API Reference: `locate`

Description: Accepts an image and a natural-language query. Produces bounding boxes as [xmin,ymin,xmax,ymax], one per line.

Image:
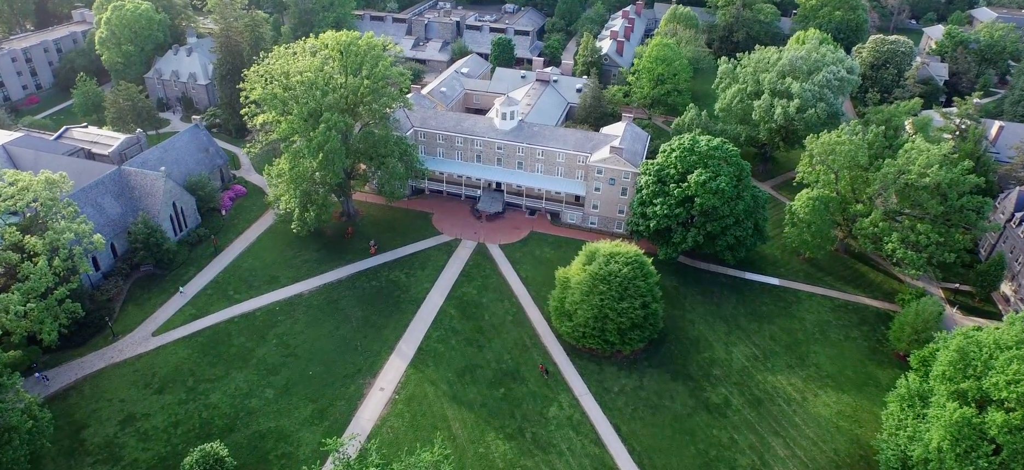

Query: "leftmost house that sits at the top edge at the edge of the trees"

[0,7,100,107]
